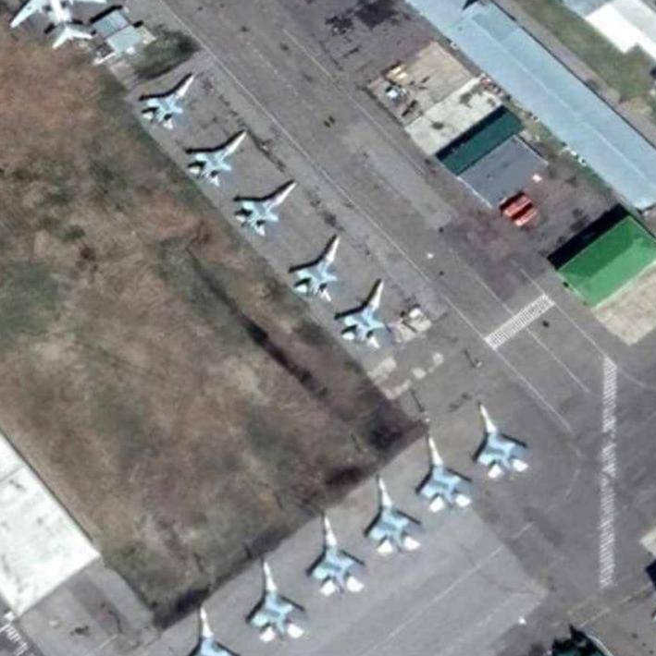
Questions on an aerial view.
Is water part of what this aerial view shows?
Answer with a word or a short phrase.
No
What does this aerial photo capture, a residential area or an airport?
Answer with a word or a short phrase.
airport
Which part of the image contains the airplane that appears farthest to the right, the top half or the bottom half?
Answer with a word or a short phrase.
bottom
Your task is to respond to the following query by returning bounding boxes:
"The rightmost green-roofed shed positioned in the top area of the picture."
[558,214,656,308]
